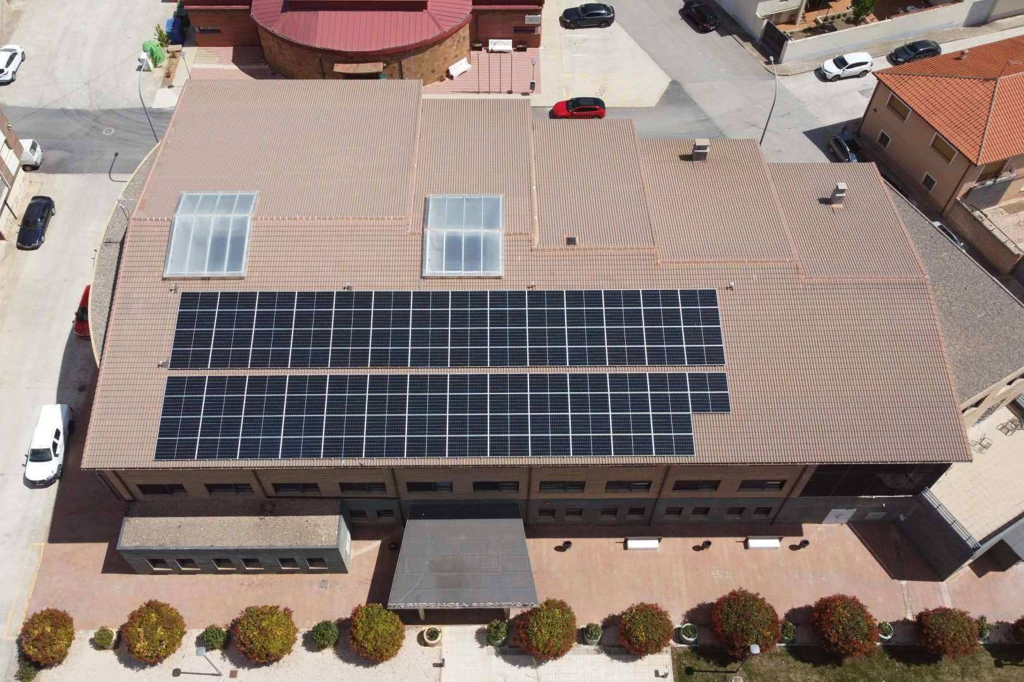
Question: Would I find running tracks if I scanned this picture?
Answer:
No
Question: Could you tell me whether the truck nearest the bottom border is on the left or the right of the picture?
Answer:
left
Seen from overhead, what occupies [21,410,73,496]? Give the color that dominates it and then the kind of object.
white truck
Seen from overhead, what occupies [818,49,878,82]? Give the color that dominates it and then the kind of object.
white car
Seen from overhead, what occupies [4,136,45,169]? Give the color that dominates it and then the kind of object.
white van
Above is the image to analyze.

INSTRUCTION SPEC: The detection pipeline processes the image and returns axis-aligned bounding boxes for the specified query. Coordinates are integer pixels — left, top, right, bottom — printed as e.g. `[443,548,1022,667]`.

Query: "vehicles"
[819,126,870,163]
[561,0,617,28]
[75,285,94,337]
[21,410,73,496]
[818,49,878,82]
[12,196,55,251]
[4,136,45,169]
[681,3,722,41]
[553,90,608,118]
[885,34,941,62]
